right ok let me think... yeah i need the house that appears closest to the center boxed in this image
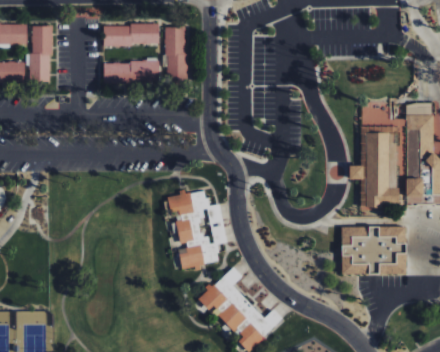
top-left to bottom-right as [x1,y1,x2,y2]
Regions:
[168,190,226,271]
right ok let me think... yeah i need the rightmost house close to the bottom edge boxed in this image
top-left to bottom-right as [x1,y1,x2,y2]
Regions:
[198,266,284,352]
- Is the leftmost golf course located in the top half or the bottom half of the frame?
bottom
